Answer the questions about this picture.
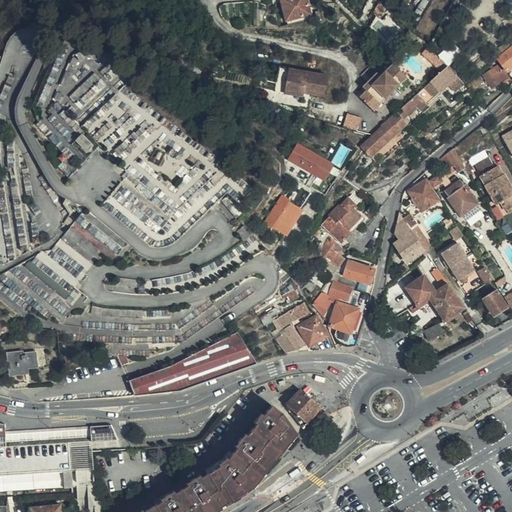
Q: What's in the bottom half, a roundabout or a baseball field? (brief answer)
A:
roundabout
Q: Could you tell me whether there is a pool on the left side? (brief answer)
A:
No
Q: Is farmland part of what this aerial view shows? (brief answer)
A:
No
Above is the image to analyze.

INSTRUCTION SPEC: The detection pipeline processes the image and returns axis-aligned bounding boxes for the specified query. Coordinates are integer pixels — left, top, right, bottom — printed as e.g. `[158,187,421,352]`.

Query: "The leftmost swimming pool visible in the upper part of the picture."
[332,146,352,169]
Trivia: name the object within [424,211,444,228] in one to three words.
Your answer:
swimming pool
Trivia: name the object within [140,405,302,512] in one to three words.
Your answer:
building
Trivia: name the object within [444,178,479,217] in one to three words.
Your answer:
house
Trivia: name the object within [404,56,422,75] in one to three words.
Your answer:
swimming pool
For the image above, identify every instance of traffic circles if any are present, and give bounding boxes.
[349,366,425,442]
